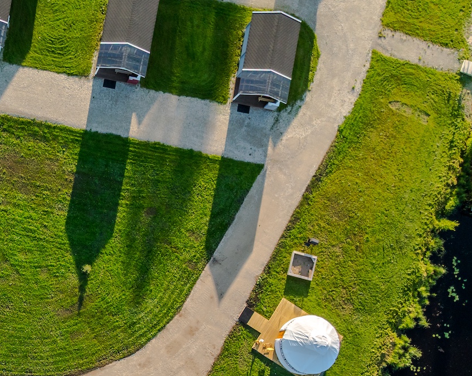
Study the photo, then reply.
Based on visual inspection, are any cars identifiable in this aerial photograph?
No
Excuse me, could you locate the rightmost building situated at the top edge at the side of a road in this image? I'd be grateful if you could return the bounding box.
[231,8,302,112]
